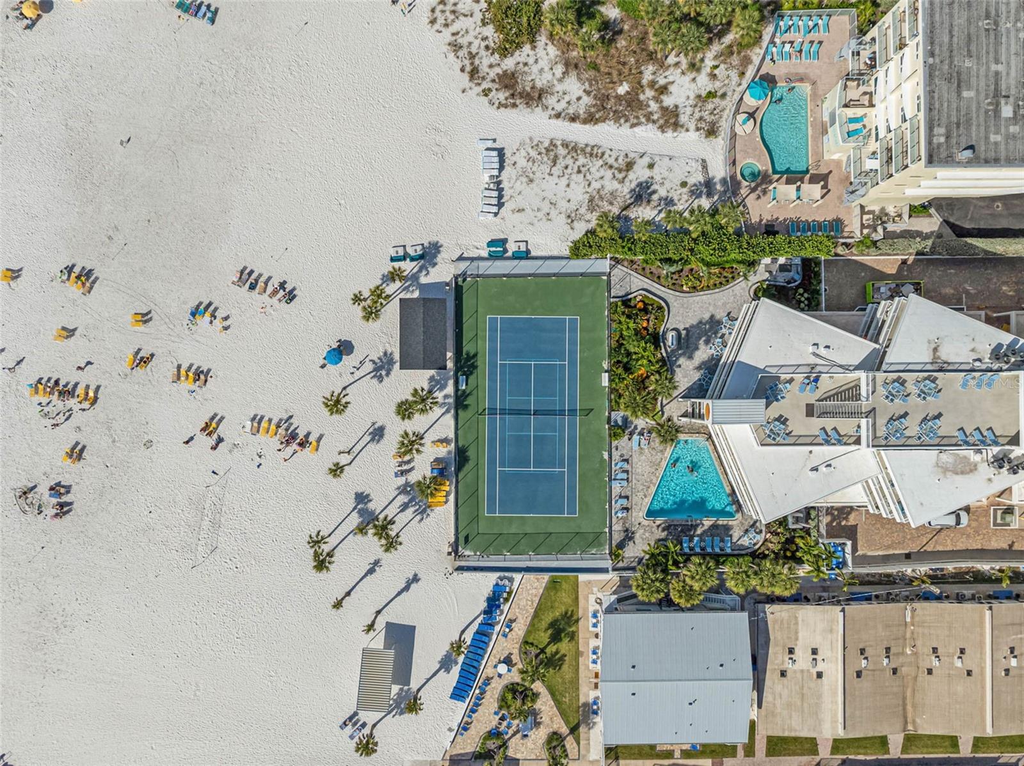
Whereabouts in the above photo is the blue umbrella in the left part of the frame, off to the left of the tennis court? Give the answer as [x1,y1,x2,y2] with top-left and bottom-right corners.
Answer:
[325,348,343,365]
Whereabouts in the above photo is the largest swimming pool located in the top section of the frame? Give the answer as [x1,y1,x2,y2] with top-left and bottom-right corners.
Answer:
[757,81,818,178]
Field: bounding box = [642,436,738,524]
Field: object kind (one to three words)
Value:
swimming pool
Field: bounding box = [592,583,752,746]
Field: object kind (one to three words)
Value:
house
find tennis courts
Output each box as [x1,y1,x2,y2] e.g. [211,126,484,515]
[455,259,609,572]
